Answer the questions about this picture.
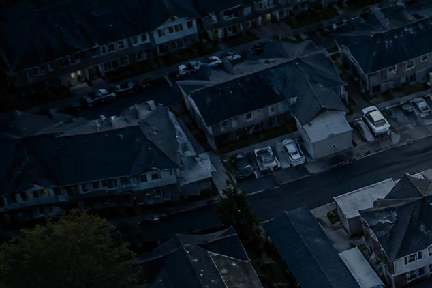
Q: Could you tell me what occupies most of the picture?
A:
buildings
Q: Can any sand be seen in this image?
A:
No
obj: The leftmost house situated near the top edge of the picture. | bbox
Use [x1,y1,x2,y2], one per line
[0,0,194,102]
